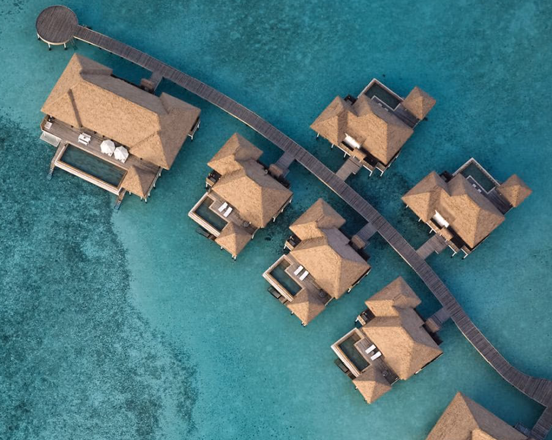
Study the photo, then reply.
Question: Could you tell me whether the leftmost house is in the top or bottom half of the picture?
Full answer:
You can find the leftmost house in the top half.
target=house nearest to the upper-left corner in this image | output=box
[39,52,201,210]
